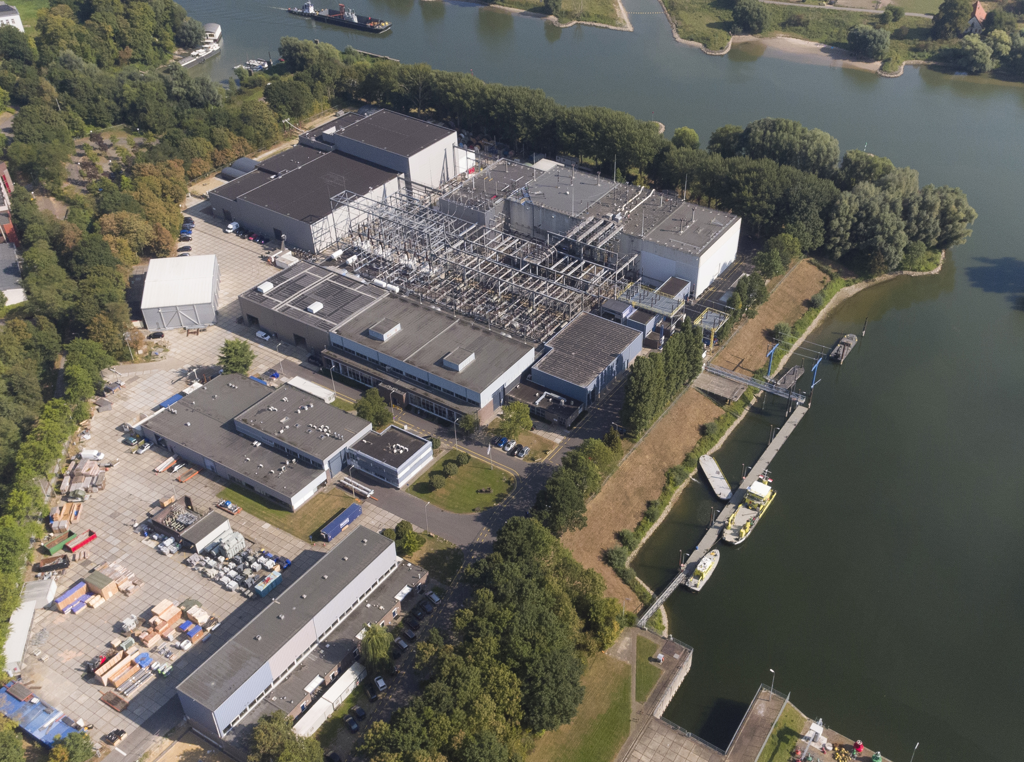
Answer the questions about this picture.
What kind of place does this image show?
port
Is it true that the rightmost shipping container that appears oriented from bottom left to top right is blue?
Yes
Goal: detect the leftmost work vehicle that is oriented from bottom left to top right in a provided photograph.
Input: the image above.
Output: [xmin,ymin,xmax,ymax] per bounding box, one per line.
[90,658,105,677]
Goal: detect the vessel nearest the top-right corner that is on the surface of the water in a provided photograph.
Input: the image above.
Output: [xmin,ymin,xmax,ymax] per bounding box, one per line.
[828,333,858,363]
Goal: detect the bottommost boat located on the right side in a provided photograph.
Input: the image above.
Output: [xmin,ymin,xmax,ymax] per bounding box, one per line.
[684,549,719,596]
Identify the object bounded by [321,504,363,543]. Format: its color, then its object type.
blue shipping container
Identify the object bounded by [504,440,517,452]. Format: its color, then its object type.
gray vehicle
